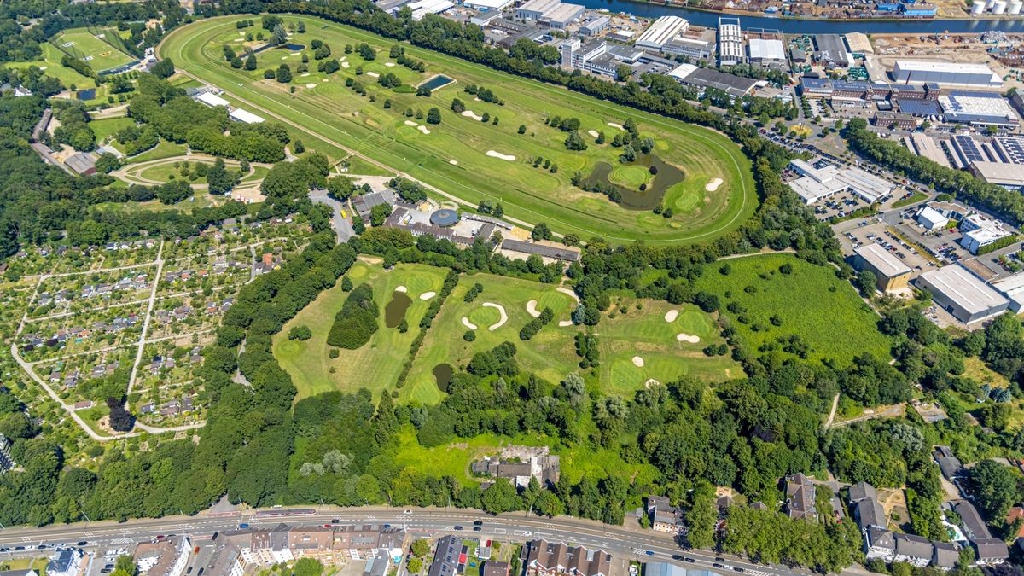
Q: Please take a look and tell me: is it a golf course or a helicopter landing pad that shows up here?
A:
golf course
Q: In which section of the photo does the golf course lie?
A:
center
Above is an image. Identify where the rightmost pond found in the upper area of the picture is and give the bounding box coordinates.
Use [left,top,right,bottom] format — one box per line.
[582,152,686,210]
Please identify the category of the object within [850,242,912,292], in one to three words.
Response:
building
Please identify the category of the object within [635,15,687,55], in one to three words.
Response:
building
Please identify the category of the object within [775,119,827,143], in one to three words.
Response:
roundabout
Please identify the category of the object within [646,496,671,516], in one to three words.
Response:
house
